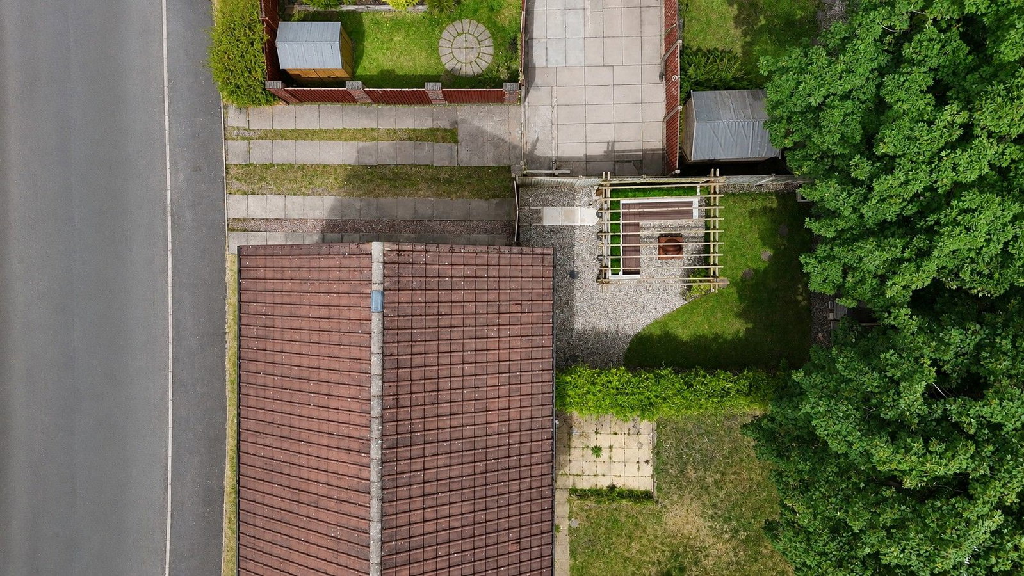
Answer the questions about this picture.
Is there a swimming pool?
No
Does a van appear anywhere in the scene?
No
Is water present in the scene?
No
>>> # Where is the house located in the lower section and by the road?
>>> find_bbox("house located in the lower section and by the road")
[235,241,557,576]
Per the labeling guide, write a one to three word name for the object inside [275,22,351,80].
shed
